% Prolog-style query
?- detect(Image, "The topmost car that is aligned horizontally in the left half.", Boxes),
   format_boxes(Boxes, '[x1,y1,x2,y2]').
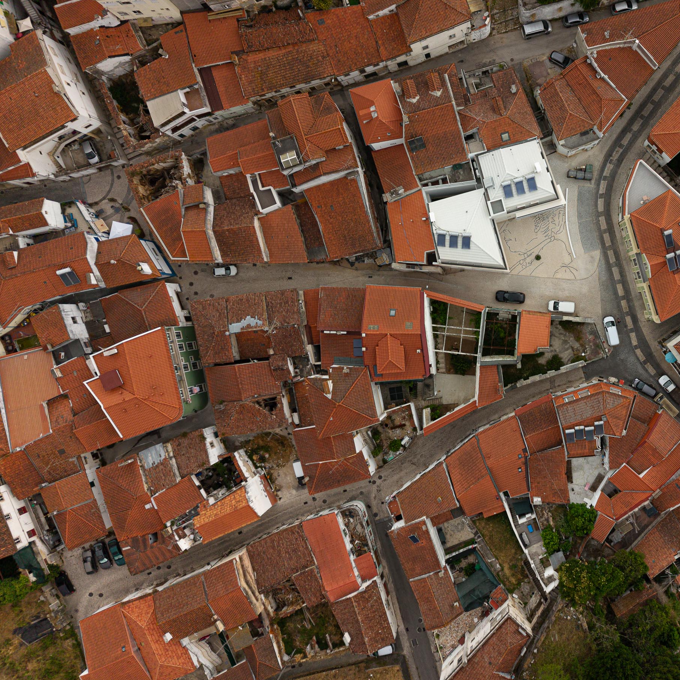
[211,265,240,278]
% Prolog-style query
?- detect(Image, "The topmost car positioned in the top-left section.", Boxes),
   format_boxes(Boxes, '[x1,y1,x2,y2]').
[82,139,100,165]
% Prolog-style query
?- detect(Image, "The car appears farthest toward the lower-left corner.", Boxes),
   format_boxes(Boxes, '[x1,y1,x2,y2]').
[56,569,76,597]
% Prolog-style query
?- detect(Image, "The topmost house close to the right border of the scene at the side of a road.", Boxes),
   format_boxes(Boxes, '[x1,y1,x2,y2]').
[577,0,680,70]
